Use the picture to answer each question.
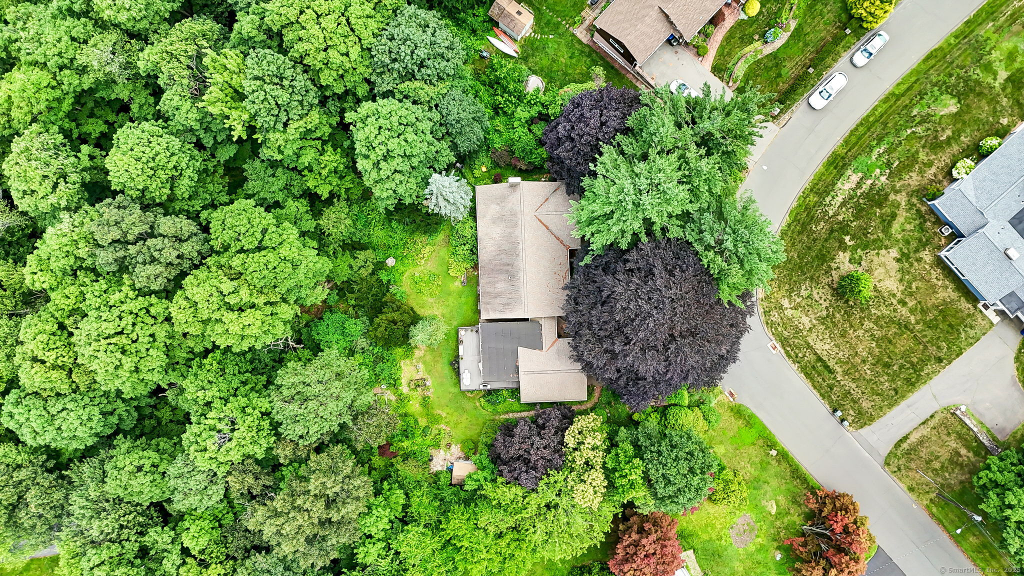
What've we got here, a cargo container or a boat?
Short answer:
boat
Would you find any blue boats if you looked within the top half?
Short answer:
No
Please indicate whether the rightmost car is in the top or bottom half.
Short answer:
top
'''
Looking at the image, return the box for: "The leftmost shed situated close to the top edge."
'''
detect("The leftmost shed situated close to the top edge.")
[486,0,536,44]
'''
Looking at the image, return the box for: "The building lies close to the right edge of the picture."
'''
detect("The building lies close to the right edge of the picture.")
[919,119,1024,308]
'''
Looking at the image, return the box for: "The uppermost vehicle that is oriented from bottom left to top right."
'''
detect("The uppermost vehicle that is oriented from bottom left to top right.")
[847,28,893,72]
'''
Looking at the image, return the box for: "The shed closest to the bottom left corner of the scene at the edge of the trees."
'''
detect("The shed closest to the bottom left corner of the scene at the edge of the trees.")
[450,459,478,490]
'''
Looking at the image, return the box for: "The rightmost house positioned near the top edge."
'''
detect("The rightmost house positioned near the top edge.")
[593,0,728,72]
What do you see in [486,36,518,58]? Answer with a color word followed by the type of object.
white boat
